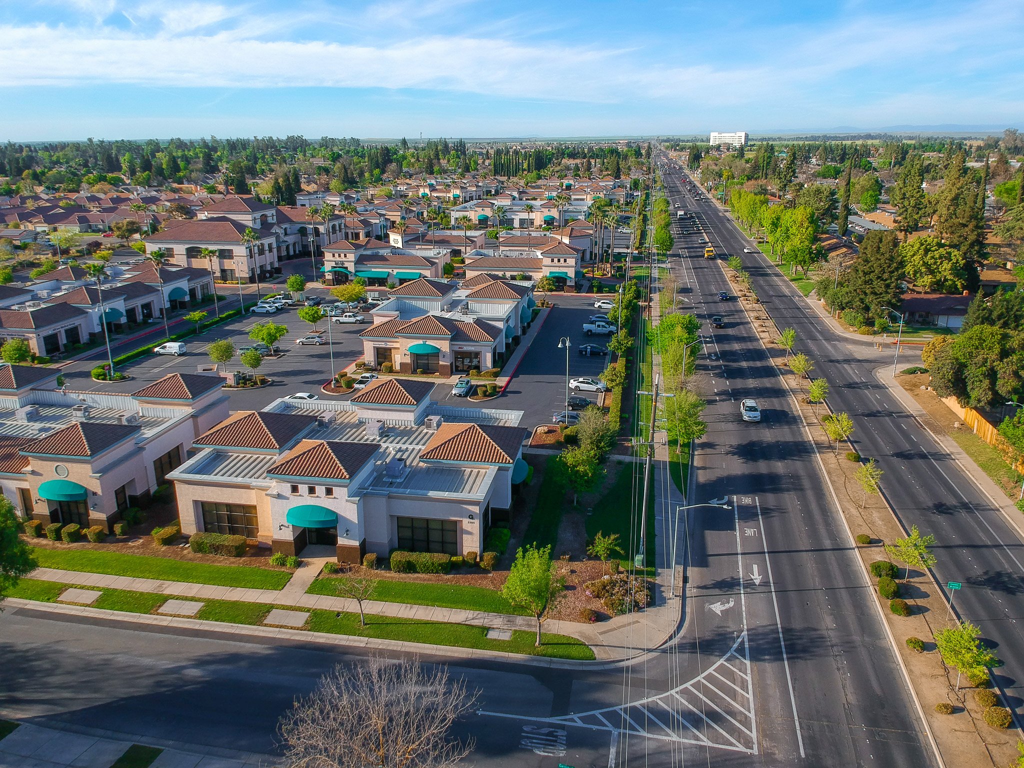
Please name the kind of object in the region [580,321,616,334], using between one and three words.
vehicle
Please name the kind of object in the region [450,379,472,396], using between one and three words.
car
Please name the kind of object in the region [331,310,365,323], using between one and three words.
vehicle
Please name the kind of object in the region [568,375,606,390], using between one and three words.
car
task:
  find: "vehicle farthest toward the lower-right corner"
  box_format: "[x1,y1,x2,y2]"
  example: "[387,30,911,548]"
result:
[739,398,763,421]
